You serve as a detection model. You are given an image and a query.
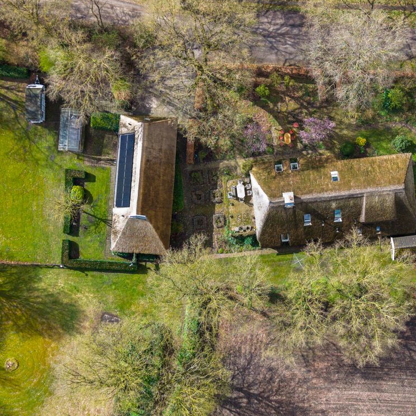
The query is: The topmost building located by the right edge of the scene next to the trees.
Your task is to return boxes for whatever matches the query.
[250,153,416,249]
